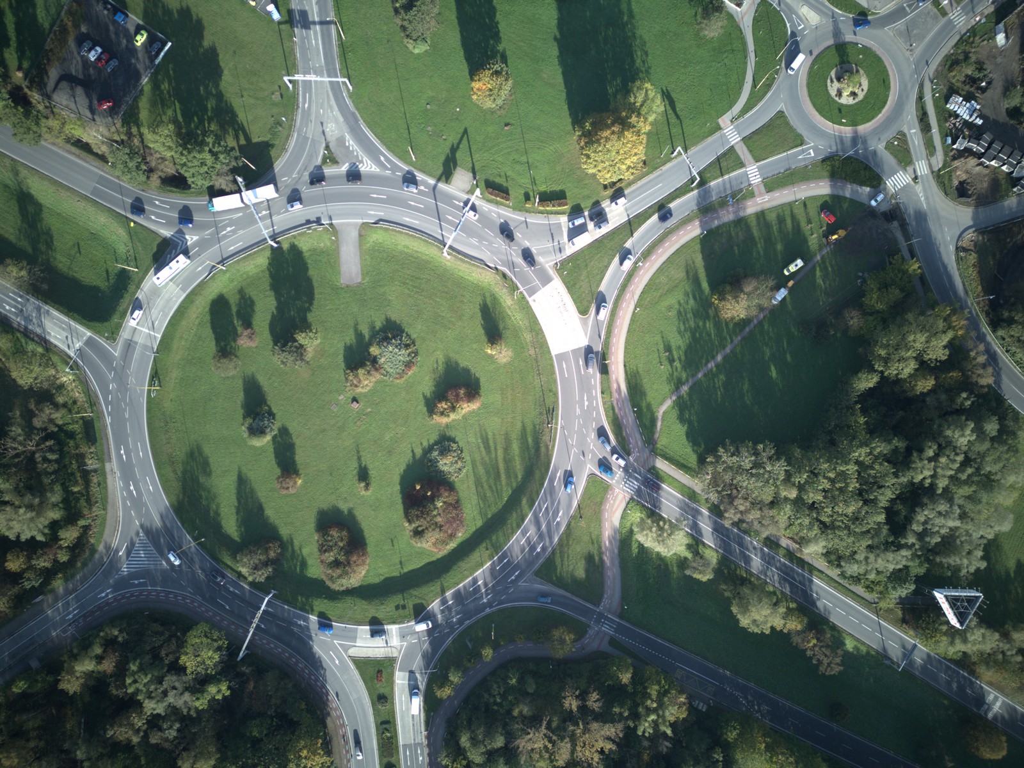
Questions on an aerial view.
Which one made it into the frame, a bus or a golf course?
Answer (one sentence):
Of the two, only a bus appears.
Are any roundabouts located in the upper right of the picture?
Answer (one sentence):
Yes, I can see a roundabout in the upper right of the picture.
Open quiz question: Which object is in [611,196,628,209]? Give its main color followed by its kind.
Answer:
white vehicle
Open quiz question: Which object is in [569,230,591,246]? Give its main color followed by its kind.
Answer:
white vehicle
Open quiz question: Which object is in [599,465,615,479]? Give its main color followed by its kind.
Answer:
blue car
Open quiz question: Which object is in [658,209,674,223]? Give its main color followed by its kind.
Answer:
blue car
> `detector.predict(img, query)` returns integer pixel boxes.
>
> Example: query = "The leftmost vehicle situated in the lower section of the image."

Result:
[166,550,179,565]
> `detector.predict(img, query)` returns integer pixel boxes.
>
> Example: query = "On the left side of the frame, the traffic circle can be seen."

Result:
[101,171,601,659]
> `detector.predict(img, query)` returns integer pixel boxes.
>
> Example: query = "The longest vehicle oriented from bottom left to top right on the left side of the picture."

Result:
[147,253,191,285]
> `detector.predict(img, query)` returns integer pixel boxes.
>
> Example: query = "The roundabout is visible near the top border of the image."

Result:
[780,11,917,155]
